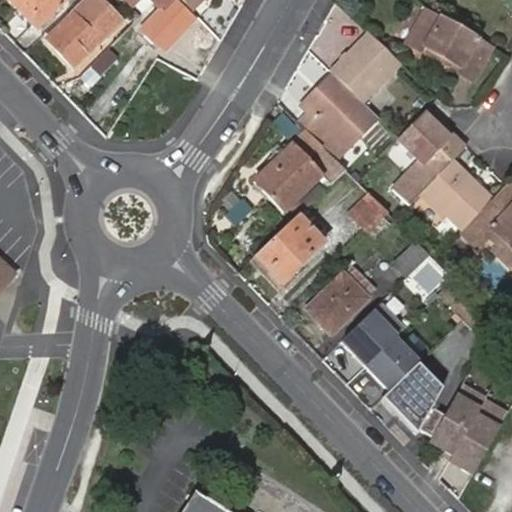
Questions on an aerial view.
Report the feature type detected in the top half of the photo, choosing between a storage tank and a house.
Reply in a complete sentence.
You can see a house in the top half of the photo.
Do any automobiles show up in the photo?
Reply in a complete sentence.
Yes, looking at the shot, I can spot an automobile.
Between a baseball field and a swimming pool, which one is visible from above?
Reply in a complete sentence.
The image shows a swimming pool.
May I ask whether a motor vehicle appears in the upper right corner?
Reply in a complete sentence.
Yes, there is a motor vehicle in the upper right corner.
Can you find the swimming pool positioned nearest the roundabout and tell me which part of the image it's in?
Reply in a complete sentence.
Look in the center portion of the view to spot the swimming pool positioned nearest the roundabout.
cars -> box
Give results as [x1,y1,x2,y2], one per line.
[444,507,455,512]
[14,62,33,80]
[164,148,186,166]
[340,26,358,36]
[473,471,495,488]
[375,474,394,495]
[482,89,500,109]
[110,86,127,106]
[115,279,133,298]
[336,348,346,368]
[100,157,122,174]
[67,172,83,196]
[274,330,292,350]
[219,120,238,142]
[352,376,372,394]
[364,425,384,446]
[32,82,52,104]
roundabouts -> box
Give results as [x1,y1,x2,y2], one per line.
[60,147,198,297]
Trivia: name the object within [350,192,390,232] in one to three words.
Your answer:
shed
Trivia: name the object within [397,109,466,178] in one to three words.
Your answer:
house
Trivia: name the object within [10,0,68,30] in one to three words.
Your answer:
house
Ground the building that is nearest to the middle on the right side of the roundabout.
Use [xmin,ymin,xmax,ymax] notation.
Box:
[250,212,328,292]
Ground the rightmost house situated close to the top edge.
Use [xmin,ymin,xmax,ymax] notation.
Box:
[424,16,496,84]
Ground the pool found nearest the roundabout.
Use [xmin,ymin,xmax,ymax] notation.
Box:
[226,196,254,224]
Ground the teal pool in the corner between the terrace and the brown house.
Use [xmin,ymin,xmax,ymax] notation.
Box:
[272,111,302,140]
